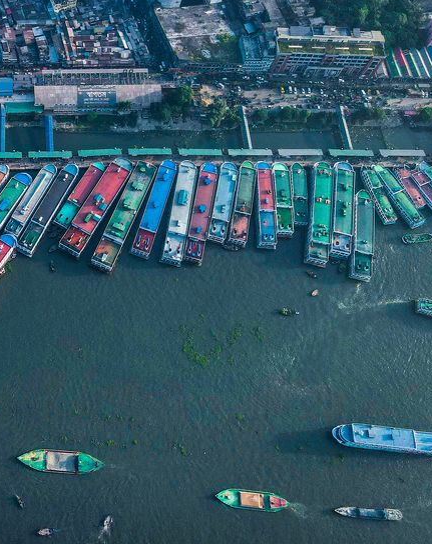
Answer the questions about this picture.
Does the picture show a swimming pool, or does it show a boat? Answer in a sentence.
The image shows a boat.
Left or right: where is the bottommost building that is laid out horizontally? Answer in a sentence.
The bottommost building that is laid out horizontally sits on the left side.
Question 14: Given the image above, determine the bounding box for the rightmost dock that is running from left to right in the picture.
[372,147,429,169]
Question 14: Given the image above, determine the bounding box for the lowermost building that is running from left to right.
[33,84,165,115]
